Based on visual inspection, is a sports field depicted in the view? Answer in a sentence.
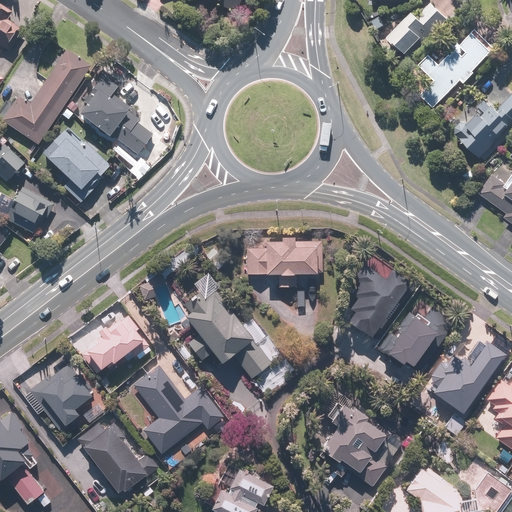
No, the scene contains no sports field.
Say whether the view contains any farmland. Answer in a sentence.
No, the scene doesn't show any farmland.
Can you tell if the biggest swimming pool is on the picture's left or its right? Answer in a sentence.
The biggest swimming pool appears in the left half of the scene.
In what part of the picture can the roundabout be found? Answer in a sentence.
The roundabout sits in the top section of the image.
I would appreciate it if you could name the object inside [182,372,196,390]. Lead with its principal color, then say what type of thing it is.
white vehicle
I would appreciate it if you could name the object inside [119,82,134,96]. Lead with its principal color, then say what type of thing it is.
white car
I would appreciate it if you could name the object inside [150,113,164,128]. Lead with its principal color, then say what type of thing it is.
white vehicle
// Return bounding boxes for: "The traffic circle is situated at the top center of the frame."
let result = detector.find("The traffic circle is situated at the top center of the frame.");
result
[226,80,320,174]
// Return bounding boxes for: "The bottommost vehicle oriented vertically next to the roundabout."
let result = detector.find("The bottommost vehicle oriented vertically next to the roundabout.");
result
[318,124,330,151]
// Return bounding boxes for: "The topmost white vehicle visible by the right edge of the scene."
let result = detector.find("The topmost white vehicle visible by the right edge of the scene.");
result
[483,286,500,299]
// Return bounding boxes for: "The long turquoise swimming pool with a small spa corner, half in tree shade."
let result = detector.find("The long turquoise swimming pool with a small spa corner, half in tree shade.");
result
[152,274,186,326]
